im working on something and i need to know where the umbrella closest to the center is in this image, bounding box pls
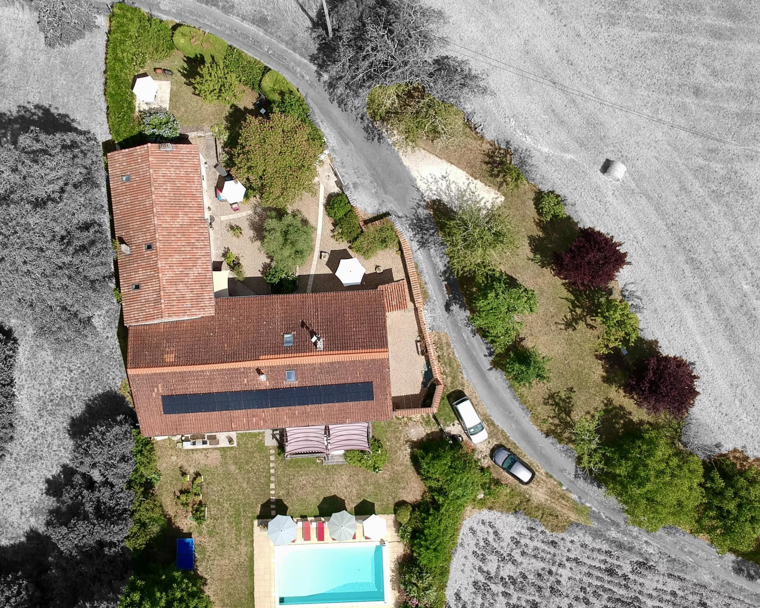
[335,257,367,287]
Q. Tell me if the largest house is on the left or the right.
left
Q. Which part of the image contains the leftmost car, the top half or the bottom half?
bottom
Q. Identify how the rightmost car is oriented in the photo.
on a diagonal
